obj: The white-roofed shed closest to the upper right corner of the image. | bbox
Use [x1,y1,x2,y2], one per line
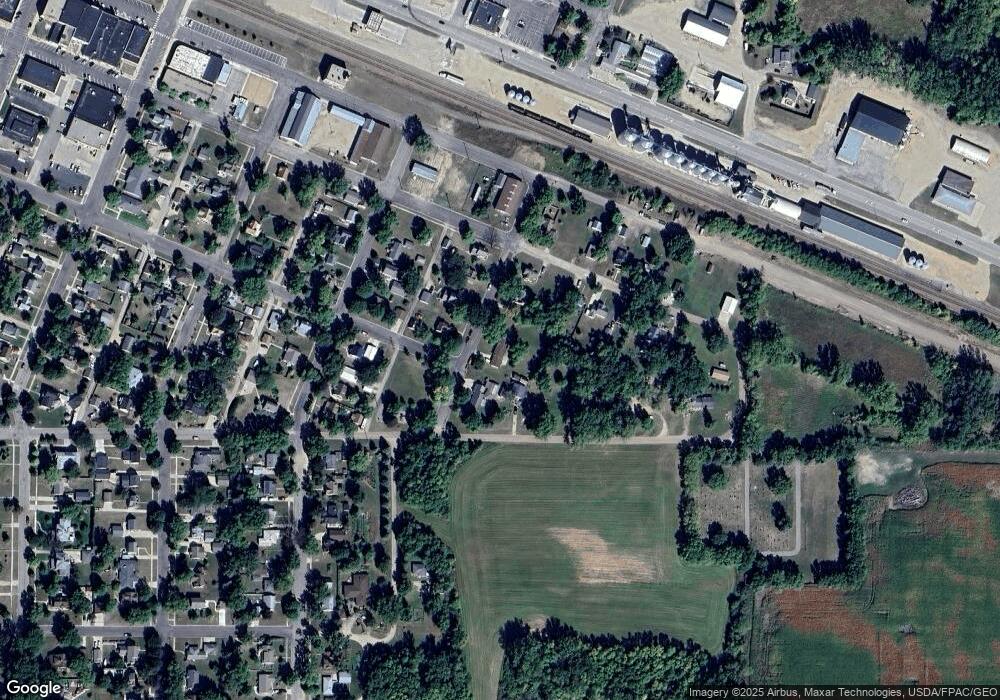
[949,139,990,165]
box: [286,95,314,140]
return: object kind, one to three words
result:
shed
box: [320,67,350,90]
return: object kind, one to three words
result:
building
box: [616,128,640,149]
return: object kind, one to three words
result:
silo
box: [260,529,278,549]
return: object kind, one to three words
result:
house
